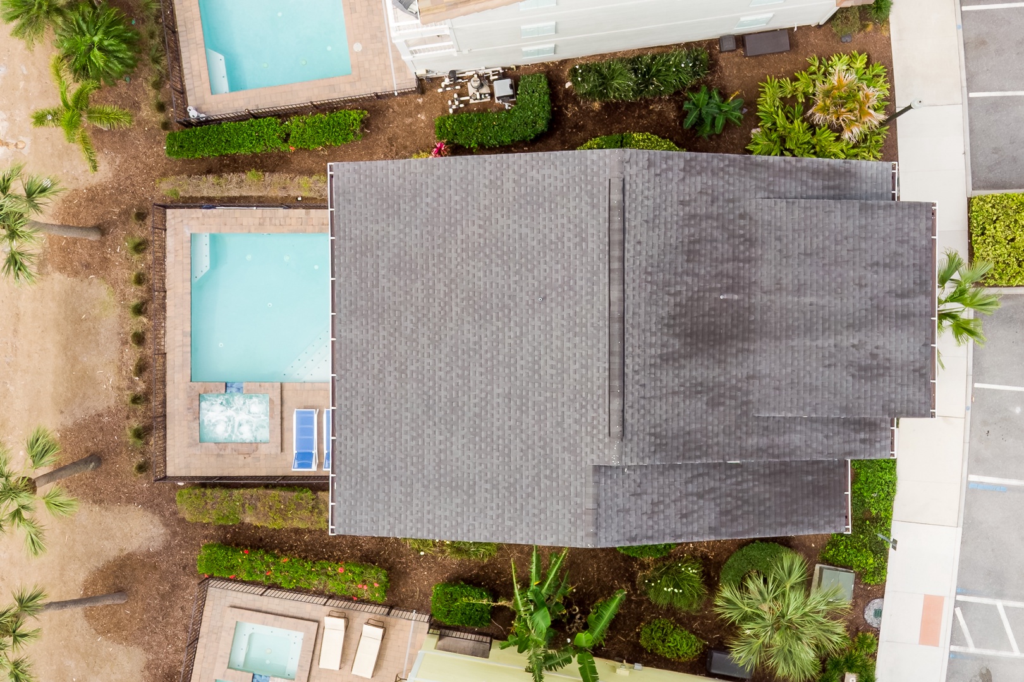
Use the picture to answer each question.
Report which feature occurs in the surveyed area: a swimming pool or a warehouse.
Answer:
swimming pool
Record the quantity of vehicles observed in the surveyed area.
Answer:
none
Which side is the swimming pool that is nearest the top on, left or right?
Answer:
left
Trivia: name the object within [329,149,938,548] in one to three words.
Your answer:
house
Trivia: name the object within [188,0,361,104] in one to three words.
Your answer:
swimming pool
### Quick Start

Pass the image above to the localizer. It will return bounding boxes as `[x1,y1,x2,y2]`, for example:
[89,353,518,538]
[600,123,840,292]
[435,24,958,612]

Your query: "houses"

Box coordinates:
[383,0,877,77]
[413,634,709,682]
[329,149,938,548]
